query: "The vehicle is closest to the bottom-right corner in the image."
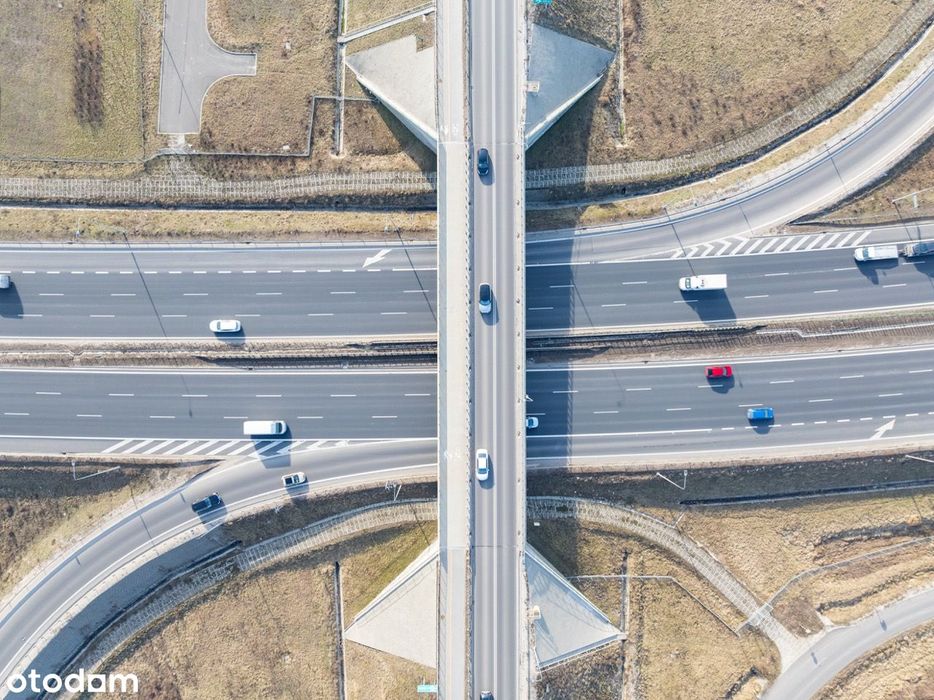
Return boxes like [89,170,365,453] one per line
[745,407,773,421]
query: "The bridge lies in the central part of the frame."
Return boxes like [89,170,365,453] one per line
[341,49,626,640]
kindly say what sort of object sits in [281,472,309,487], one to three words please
car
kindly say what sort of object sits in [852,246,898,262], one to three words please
vehicle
